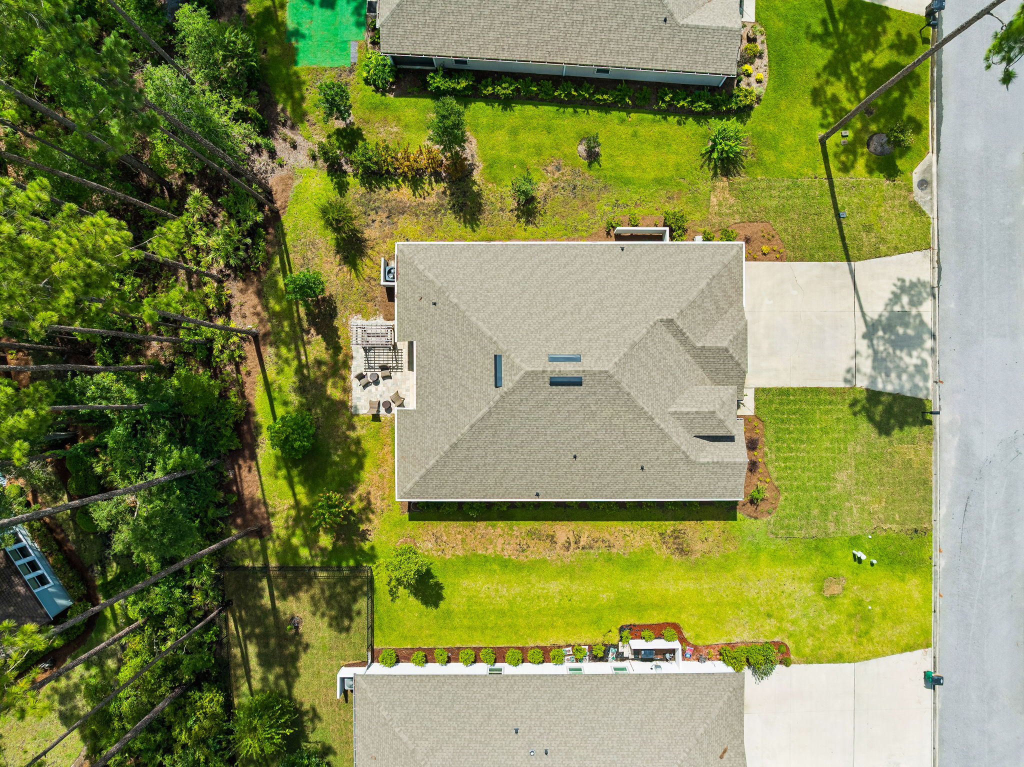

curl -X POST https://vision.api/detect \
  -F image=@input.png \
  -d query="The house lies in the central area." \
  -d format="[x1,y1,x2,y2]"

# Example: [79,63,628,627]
[393,240,751,503]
